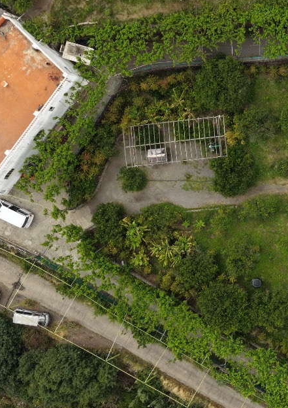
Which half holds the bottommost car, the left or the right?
left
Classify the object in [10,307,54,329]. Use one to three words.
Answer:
car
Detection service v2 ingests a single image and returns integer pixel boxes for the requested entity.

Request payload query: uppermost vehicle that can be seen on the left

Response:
[0,197,40,231]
